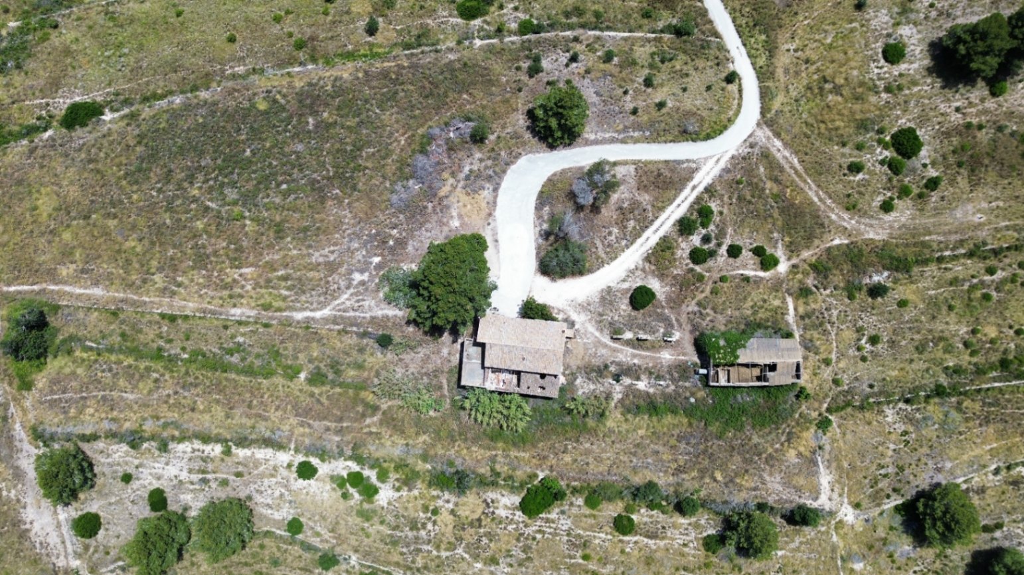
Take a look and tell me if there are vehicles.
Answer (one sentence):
No, I can see no vehicle in this picture.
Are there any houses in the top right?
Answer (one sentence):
No, there's no house to be seen in the top right.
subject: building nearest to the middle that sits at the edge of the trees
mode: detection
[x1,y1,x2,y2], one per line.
[461,318,574,399]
